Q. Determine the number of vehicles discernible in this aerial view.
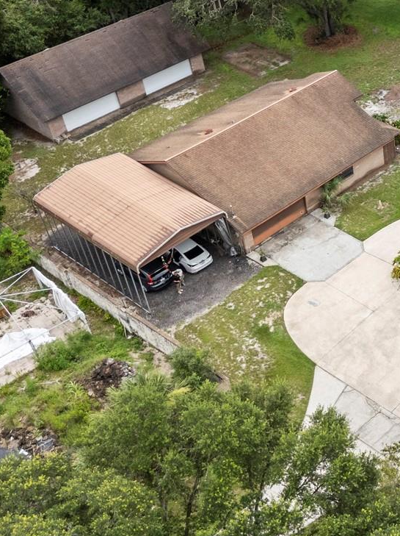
2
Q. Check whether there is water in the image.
No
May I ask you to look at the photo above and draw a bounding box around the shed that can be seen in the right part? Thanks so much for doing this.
[123,70,400,253]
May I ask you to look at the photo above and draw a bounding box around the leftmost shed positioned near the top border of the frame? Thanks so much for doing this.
[0,0,225,139]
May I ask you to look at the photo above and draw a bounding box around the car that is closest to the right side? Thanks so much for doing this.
[165,238,211,270]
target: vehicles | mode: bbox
[109,259,172,292]
[165,238,211,270]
